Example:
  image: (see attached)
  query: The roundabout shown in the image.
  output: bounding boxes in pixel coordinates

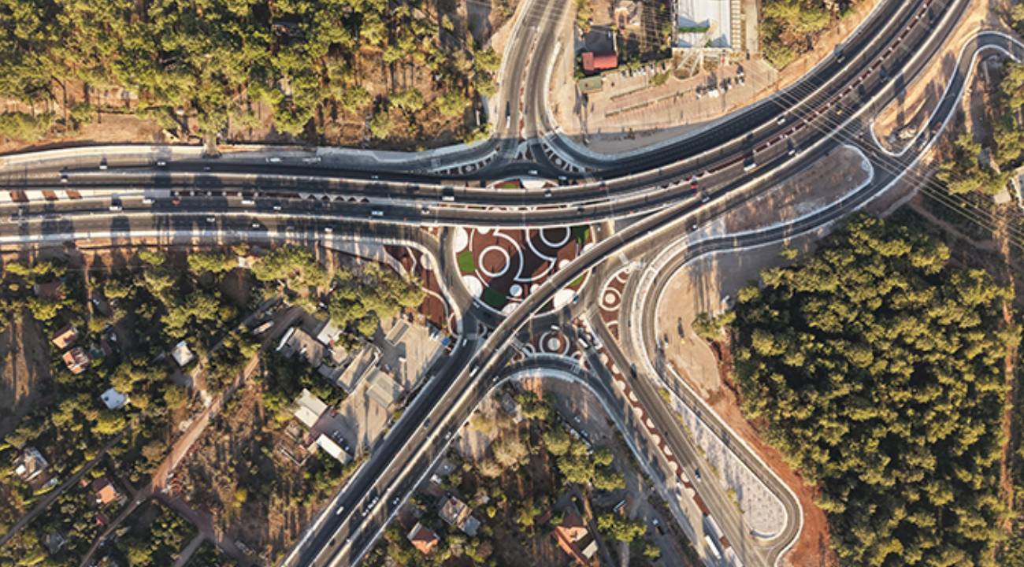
[434,158,612,335]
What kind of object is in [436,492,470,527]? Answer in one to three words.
house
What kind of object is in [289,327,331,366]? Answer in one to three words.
building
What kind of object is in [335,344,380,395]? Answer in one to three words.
building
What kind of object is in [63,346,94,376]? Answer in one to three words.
house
